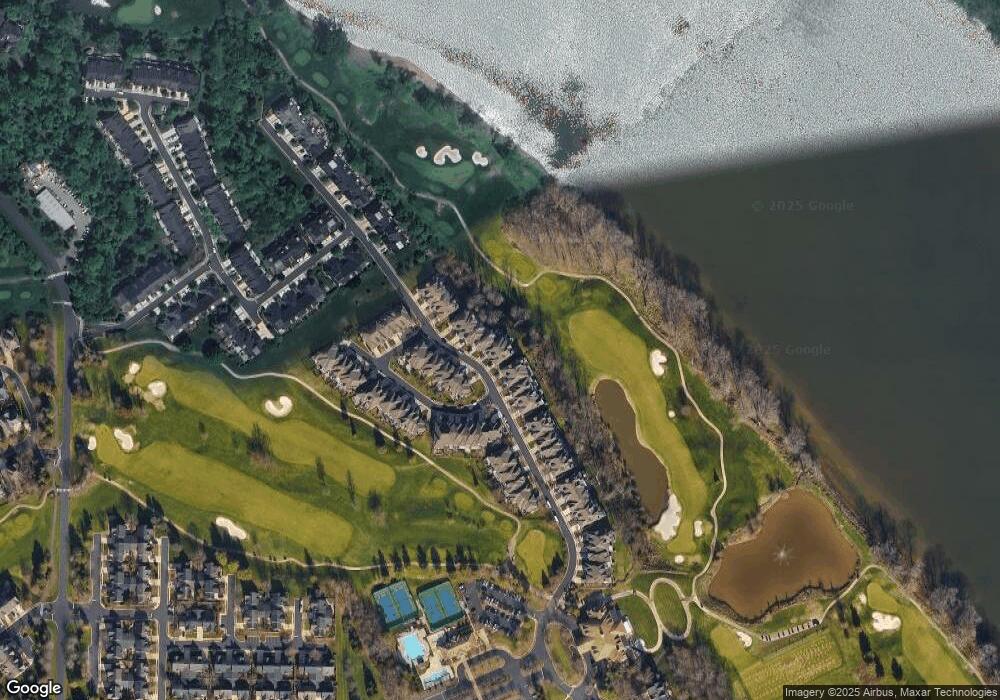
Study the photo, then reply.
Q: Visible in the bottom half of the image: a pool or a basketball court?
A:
pool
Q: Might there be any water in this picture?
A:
Yes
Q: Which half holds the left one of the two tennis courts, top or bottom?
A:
bottom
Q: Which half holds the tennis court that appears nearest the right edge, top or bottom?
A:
bottom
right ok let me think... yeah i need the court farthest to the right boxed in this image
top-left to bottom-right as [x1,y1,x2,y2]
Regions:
[417,580,464,627]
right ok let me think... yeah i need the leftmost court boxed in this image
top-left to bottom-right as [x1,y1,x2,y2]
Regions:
[373,580,419,626]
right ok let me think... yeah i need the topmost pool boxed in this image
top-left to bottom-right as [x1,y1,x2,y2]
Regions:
[397,629,430,668]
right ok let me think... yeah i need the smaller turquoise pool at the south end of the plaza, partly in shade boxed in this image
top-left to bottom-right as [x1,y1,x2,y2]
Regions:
[420,665,457,690]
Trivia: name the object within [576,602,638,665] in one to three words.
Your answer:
building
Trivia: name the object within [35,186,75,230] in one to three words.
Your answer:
shed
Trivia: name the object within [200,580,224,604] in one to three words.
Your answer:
house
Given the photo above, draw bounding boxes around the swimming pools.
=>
[397,629,430,668]
[420,665,457,690]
